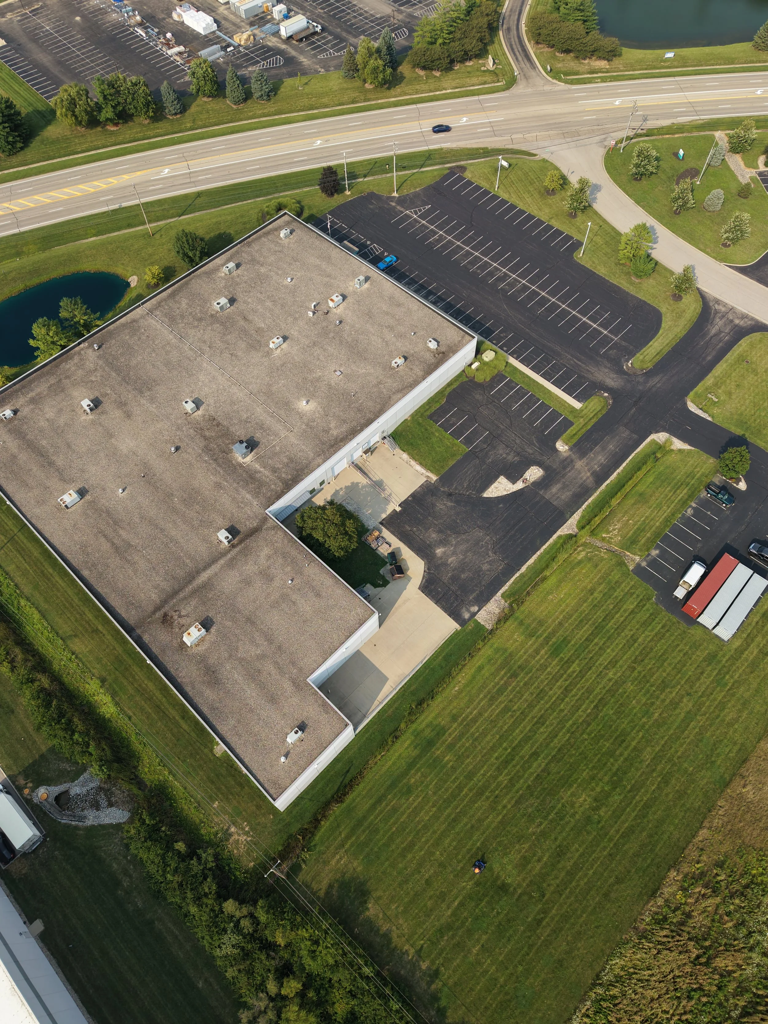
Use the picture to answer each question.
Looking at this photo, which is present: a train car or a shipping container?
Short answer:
shipping container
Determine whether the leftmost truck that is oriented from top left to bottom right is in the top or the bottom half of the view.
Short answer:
bottom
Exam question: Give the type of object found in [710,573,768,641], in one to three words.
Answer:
shipping container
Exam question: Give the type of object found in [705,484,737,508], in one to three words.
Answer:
truck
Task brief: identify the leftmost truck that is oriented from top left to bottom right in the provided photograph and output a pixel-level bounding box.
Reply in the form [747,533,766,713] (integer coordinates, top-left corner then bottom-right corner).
[0,785,48,857]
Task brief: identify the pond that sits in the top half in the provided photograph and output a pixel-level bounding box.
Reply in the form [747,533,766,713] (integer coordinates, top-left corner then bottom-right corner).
[0,275,126,365]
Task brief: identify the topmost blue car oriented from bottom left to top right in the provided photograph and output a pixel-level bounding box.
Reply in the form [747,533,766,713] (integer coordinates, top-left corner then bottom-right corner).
[378,256,397,270]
